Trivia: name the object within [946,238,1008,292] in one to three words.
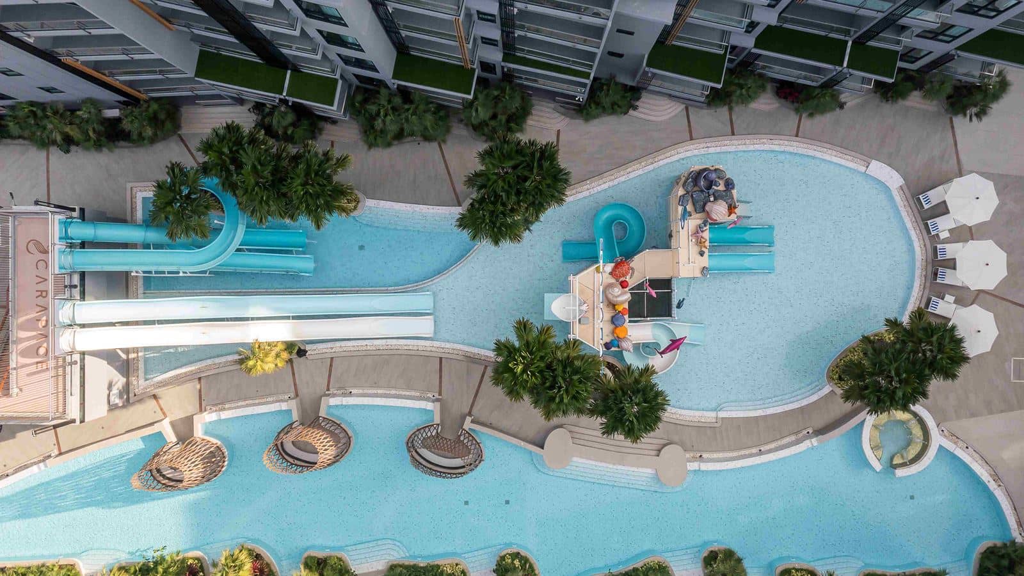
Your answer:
umbrella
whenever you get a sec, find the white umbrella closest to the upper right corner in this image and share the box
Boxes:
[937,171,1000,227]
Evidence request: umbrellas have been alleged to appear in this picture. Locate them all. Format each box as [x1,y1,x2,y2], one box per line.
[946,238,1008,292]
[948,302,1000,360]
[937,171,1000,227]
